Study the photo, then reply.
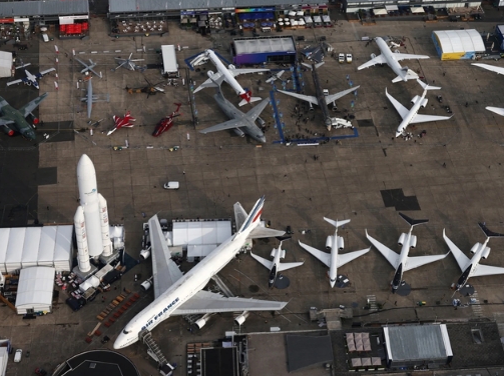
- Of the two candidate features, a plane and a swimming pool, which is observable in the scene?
plane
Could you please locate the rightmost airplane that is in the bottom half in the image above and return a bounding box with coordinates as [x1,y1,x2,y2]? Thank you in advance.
[442,222,504,291]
